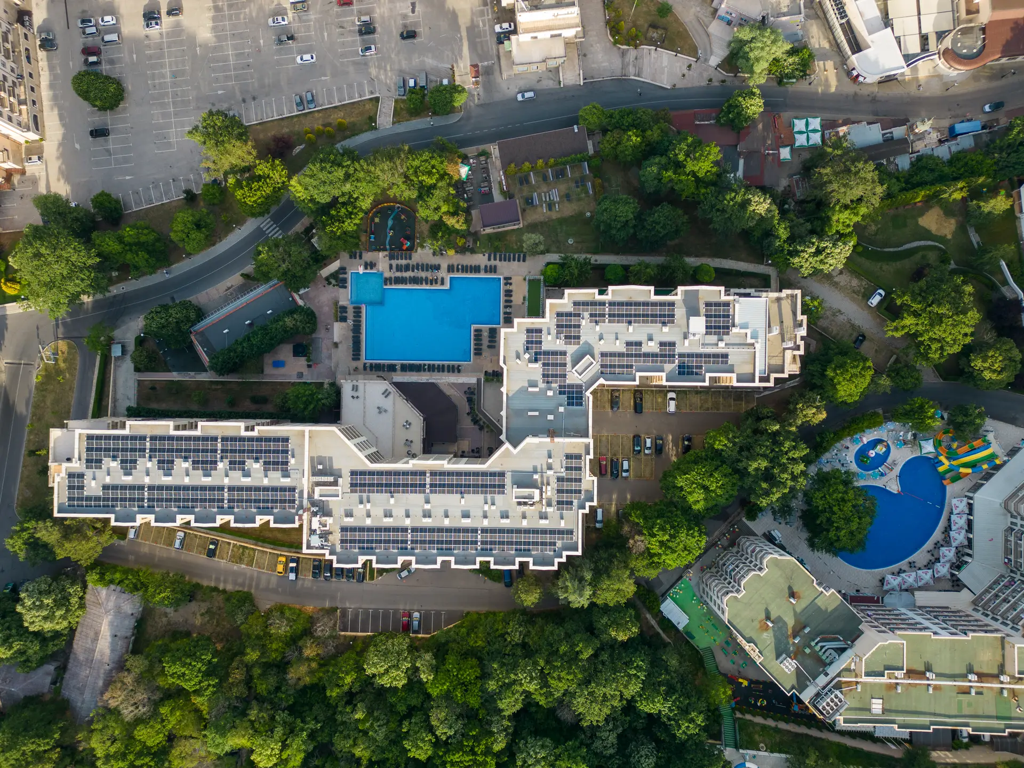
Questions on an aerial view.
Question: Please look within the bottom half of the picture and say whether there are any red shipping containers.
No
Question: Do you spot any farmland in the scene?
No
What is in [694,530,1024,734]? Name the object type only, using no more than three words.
building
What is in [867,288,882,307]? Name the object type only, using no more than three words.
car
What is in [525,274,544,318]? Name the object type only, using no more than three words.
sports court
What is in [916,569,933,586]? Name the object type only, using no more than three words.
umbrella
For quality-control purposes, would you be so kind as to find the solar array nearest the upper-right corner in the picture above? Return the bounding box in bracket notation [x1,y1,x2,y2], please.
[702,302,730,336]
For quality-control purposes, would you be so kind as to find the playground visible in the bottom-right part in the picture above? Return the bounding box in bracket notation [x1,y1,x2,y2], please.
[731,675,838,729]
